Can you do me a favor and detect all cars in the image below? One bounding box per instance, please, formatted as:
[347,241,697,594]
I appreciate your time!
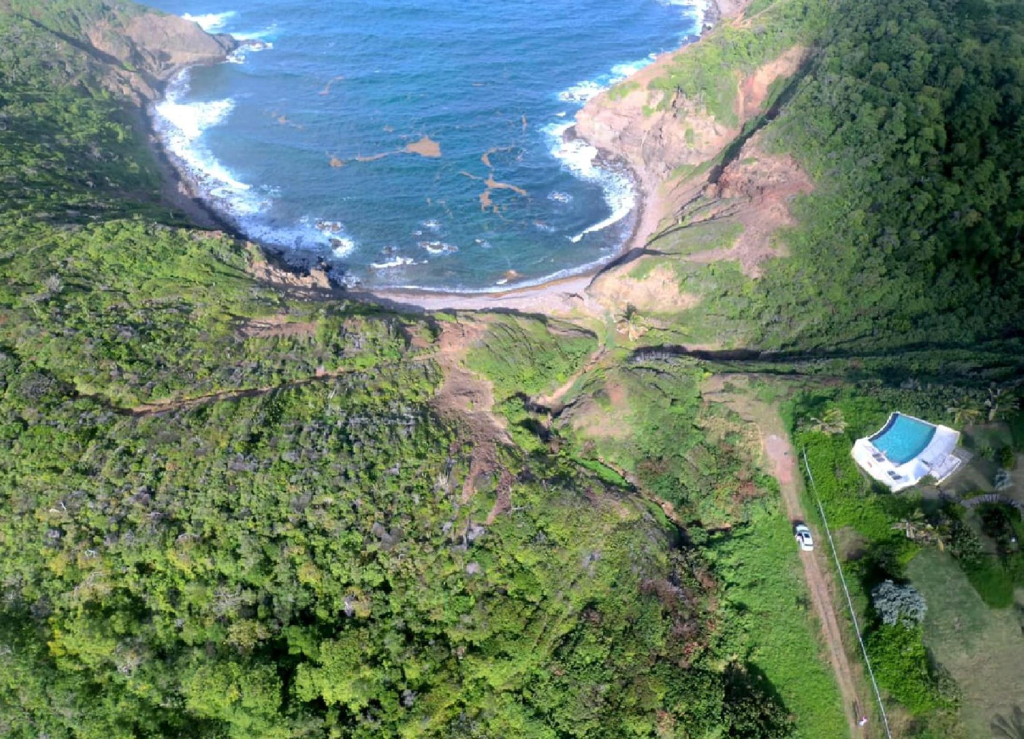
[792,528,814,553]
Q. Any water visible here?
Yes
